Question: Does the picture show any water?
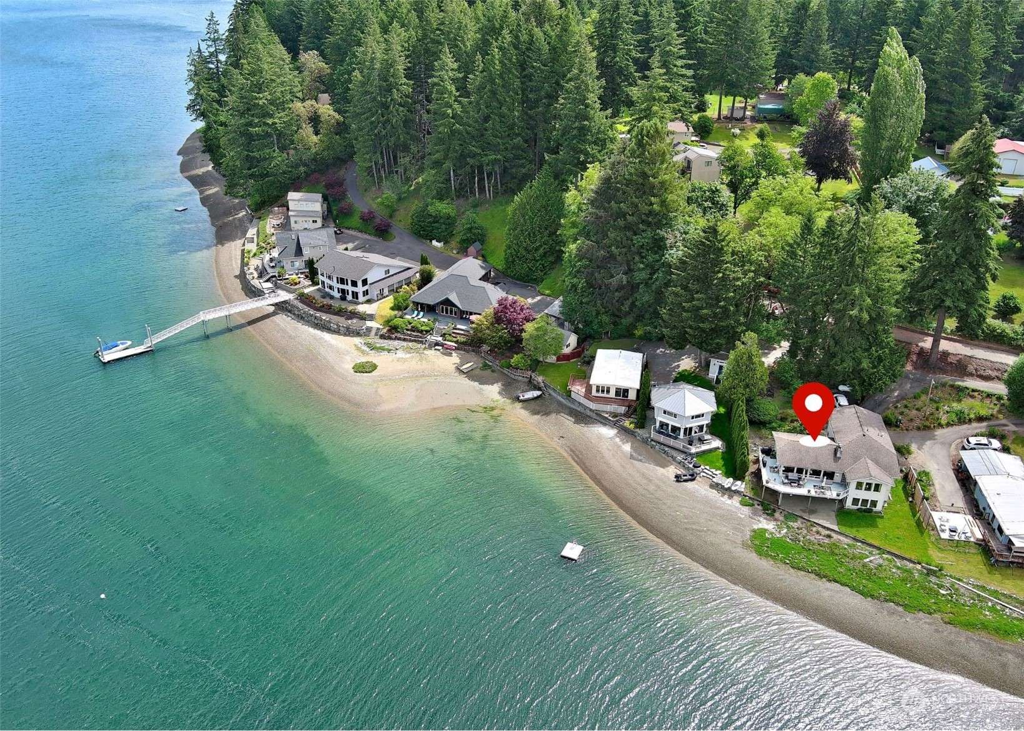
Yes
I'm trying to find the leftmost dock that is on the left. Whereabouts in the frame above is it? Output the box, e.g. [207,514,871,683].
[89,321,154,365]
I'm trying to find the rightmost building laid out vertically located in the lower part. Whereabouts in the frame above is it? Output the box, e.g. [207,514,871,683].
[957,453,1024,578]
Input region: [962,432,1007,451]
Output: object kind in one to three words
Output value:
car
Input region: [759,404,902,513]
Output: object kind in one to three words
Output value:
house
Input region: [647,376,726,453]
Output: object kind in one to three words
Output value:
house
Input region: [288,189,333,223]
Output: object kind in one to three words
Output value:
building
